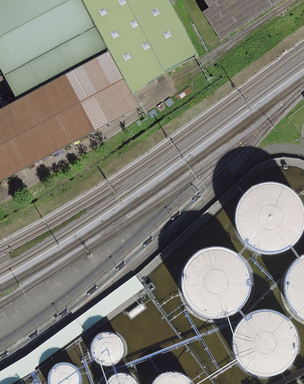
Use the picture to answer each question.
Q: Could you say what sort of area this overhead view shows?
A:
industrial area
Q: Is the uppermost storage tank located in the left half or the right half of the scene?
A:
right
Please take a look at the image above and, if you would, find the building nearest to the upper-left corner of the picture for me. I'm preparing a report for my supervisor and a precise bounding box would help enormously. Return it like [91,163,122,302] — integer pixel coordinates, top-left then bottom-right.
[0,0,108,98]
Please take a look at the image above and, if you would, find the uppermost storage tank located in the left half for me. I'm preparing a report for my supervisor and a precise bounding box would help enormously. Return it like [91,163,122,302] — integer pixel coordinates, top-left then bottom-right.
[89,330,128,368]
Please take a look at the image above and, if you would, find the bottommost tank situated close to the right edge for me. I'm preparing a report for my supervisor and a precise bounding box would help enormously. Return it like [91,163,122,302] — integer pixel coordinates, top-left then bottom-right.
[232,308,304,380]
